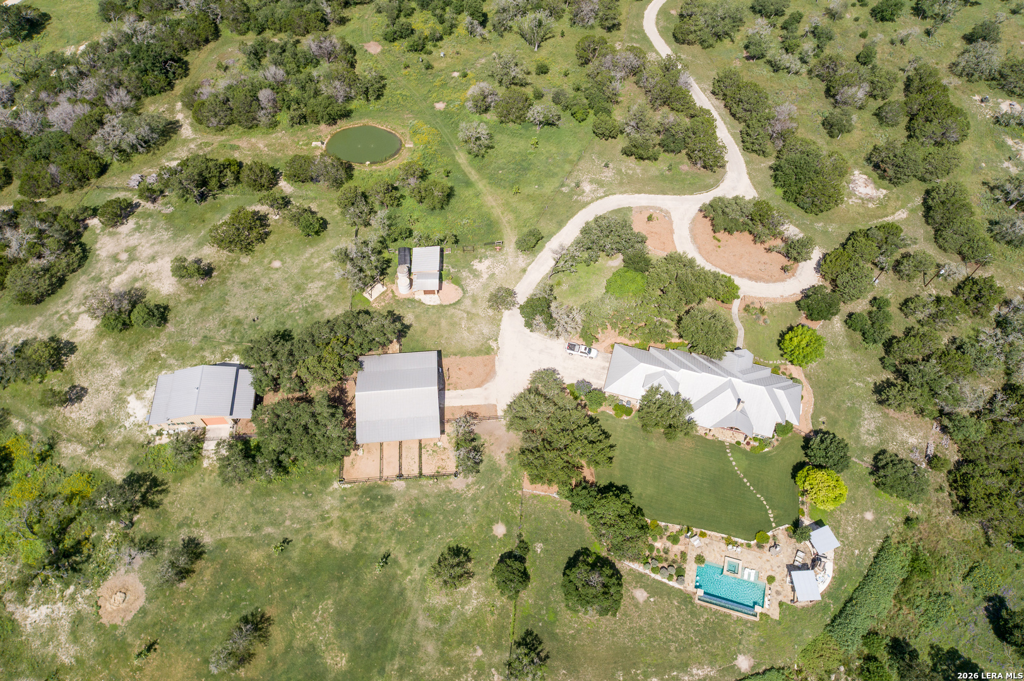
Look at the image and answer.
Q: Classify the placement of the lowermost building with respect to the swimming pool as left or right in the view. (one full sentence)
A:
Compared with the swimming pool, the lowermost building is located further to the right.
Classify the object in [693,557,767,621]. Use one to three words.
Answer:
swimming pool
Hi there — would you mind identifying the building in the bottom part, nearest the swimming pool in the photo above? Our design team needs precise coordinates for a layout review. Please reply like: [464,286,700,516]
[789,570,821,603]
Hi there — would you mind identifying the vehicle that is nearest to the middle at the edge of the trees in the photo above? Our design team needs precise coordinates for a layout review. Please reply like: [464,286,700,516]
[565,342,599,360]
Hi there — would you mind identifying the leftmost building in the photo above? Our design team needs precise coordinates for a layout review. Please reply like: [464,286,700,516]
[147,364,262,428]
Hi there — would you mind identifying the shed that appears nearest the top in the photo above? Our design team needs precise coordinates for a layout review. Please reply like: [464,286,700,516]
[411,245,440,300]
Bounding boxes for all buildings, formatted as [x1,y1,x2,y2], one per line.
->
[807,525,840,556]
[604,343,802,446]
[357,351,442,448]
[411,245,440,300]
[147,364,262,428]
[789,570,821,603]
